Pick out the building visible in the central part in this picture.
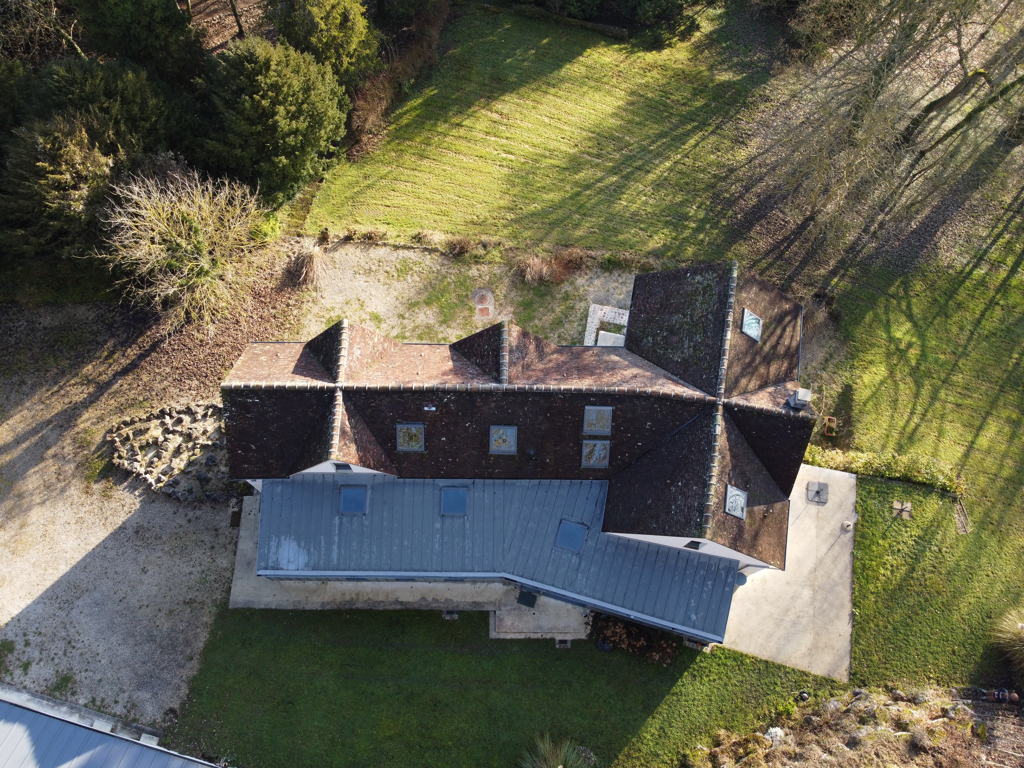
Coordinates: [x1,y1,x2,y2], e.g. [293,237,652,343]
[219,259,818,646]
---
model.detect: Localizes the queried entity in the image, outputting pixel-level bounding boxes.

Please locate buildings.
[0,694,245,768]
[219,259,818,646]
